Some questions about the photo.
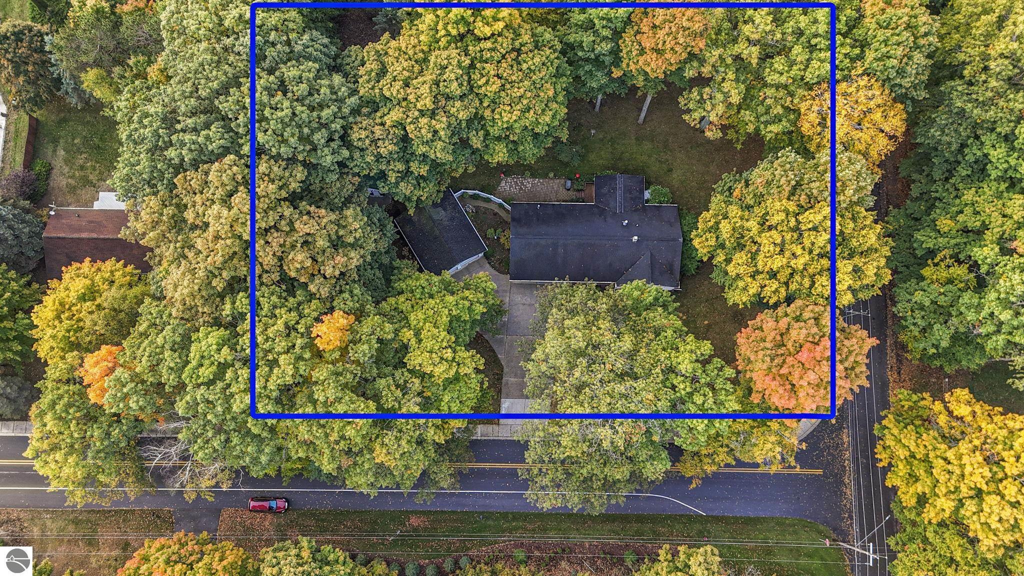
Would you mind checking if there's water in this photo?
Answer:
No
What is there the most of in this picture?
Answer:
trees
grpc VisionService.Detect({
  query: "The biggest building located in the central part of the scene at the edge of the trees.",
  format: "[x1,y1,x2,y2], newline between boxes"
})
[510,174,684,293]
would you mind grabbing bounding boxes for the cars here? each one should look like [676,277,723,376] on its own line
[249,496,291,515]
